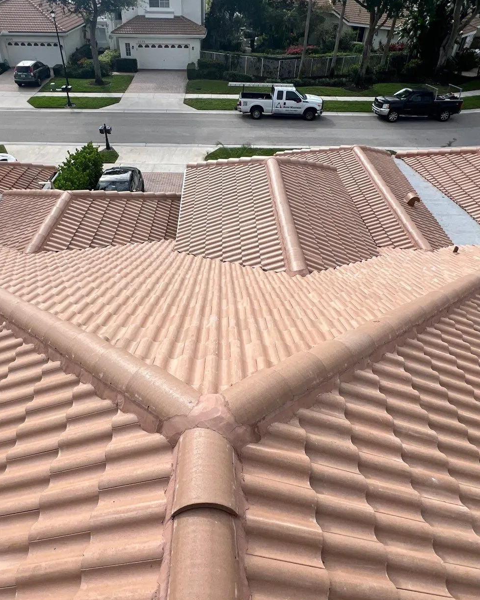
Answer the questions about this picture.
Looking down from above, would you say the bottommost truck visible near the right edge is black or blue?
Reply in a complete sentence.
In this view, the bottommost truck visible near the right edge is black.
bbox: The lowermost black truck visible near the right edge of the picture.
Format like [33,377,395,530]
[371,83,468,122]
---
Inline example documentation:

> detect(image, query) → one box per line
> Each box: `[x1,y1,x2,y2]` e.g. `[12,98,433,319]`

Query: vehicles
[100,163,144,192]
[0,154,40,163]
[9,58,46,86]
[371,83,468,122]
[236,78,330,121]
